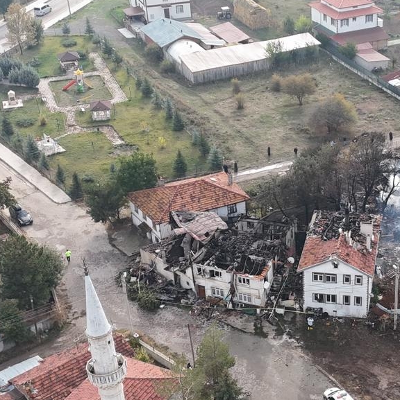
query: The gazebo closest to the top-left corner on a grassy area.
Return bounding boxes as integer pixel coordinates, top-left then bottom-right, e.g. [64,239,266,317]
[54,50,80,72]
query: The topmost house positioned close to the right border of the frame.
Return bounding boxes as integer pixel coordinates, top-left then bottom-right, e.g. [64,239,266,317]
[306,0,387,49]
